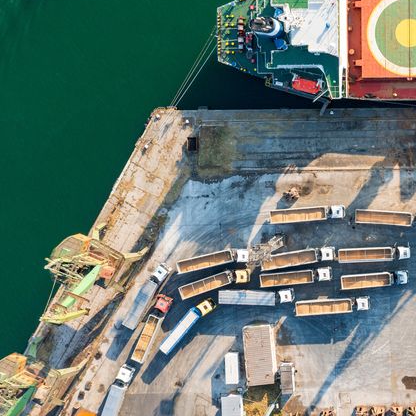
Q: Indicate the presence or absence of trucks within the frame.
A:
Yes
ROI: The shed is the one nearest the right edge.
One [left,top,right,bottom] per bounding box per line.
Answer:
[280,360,295,394]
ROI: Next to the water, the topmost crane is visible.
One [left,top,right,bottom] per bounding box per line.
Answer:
[41,217,152,317]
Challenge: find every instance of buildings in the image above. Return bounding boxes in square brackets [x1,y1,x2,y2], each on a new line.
[280,360,295,394]
[242,322,279,386]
